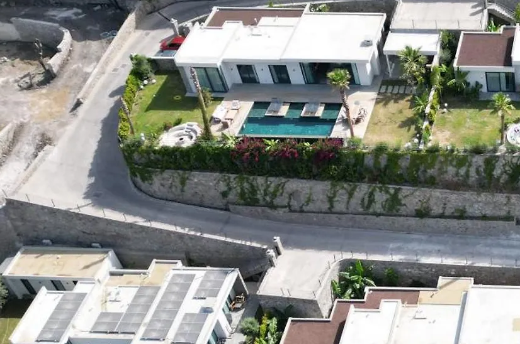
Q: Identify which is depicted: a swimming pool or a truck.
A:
swimming pool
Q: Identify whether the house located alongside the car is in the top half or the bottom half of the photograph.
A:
top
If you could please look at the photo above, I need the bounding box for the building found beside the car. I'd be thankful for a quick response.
[172,6,387,91]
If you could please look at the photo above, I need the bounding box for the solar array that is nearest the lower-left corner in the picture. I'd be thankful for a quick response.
[38,292,86,340]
